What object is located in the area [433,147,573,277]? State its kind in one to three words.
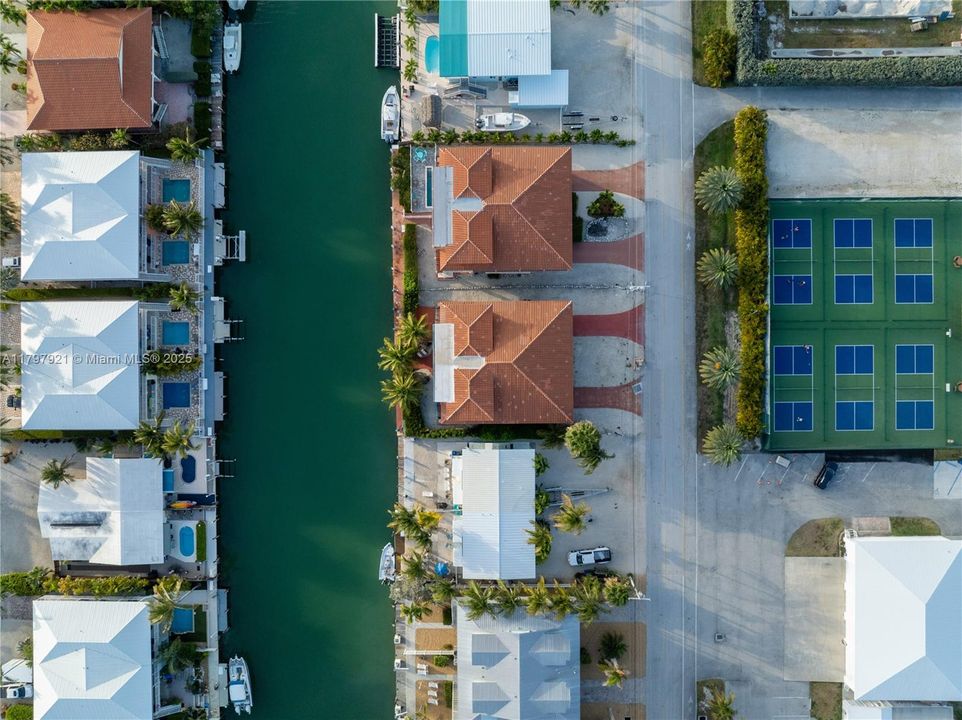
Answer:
house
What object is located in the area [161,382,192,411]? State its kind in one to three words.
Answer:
swimming pool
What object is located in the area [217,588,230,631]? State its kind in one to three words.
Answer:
pier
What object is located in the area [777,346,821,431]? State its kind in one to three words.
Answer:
sports court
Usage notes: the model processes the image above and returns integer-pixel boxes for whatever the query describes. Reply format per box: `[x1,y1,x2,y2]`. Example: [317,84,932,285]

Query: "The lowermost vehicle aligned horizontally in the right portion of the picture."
[568,548,612,569]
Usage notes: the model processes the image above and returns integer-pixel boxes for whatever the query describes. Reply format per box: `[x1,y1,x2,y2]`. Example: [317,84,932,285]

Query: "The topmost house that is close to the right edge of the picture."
[843,535,962,700]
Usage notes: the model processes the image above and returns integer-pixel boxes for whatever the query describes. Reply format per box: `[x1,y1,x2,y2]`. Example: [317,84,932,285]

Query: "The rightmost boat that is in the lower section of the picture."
[378,541,395,587]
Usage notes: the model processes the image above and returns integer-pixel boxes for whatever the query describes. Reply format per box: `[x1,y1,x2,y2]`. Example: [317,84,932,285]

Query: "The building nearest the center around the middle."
[433,301,573,423]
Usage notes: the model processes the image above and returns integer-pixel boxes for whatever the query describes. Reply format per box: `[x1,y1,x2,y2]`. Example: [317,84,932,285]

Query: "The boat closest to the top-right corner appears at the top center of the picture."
[473,103,530,127]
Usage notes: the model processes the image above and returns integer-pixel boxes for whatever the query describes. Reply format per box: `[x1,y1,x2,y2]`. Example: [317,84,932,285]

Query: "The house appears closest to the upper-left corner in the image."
[26,7,173,131]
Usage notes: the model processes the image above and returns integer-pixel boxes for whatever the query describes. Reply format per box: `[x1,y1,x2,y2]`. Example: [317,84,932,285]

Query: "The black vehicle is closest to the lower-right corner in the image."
[817,460,840,491]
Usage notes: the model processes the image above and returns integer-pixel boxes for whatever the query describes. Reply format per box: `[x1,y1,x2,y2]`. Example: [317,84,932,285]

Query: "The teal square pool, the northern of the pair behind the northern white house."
[161,178,192,203]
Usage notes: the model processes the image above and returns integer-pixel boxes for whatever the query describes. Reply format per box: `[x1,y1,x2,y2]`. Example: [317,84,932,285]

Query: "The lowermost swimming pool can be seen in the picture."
[169,607,195,635]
